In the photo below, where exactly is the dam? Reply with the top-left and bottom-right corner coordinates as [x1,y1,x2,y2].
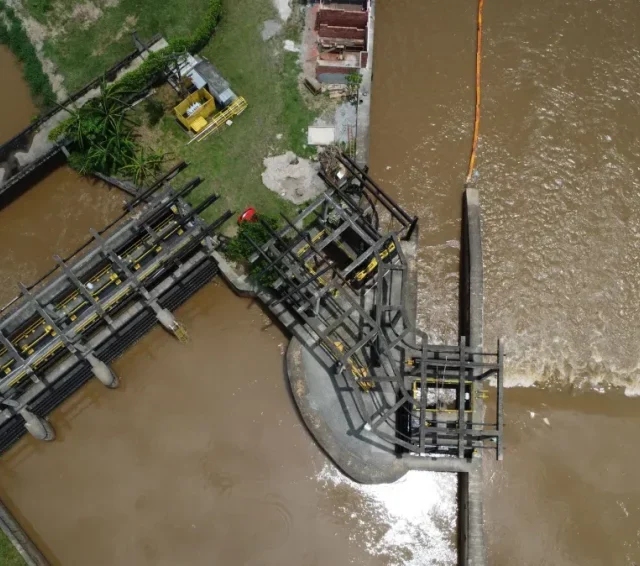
[0,160,233,449]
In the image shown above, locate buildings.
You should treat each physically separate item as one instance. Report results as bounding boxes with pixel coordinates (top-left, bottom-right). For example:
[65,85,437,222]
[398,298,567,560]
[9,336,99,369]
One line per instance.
[192,57,243,118]
[316,0,368,77]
